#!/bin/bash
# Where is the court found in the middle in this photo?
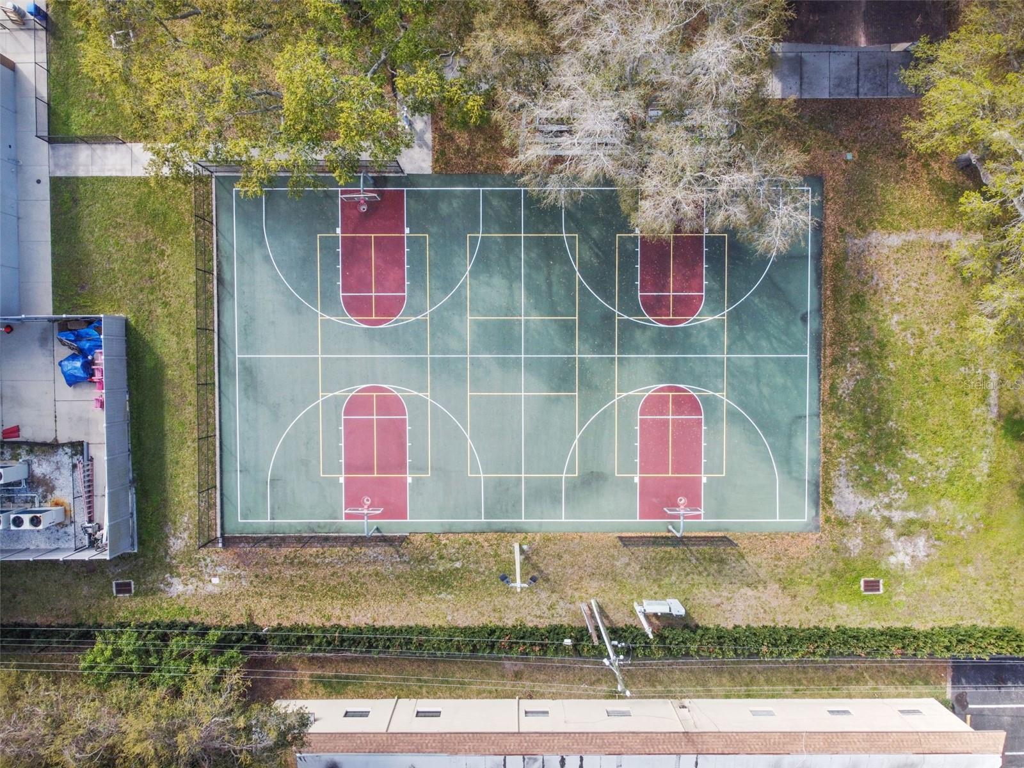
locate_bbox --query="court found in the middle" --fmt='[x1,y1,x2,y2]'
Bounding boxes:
[217,174,822,533]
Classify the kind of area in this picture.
sports ground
